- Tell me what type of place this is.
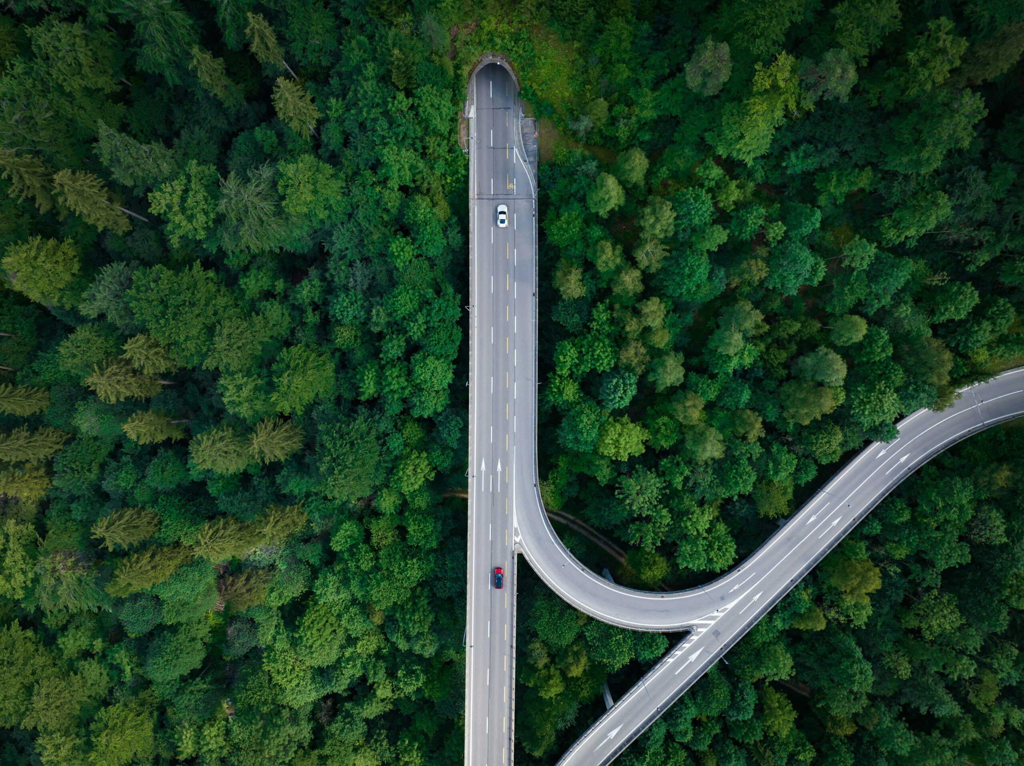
forest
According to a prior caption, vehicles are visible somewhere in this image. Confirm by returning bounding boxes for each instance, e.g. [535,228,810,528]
[498,203,507,227]
[494,568,504,590]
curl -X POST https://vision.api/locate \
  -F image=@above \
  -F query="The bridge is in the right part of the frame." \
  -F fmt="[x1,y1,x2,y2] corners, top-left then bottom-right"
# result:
[464,104,1024,766]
